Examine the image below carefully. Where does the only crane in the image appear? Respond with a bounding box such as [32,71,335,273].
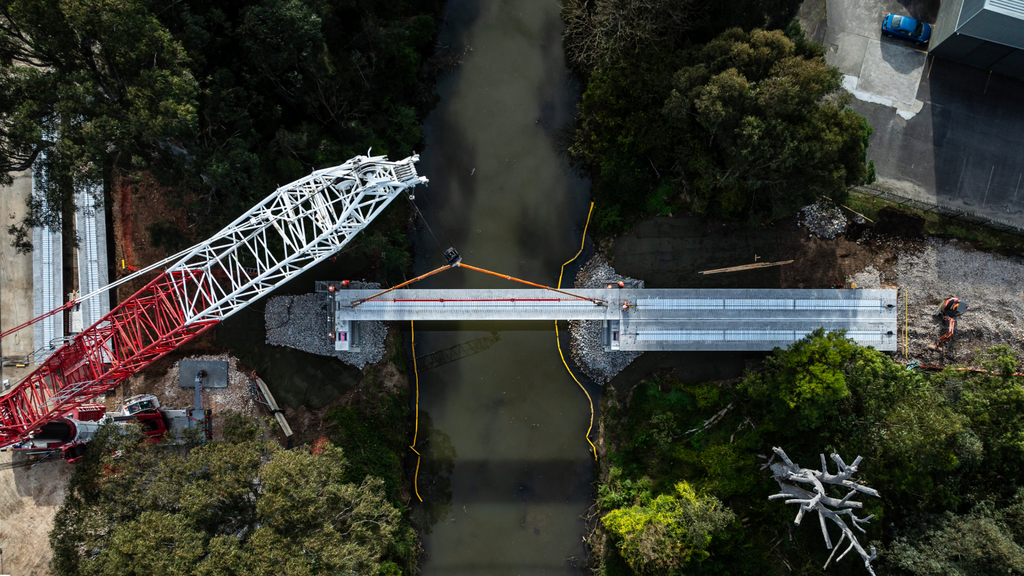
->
[0,147,453,477]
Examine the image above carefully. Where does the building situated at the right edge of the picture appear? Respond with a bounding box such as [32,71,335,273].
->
[928,0,1024,79]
